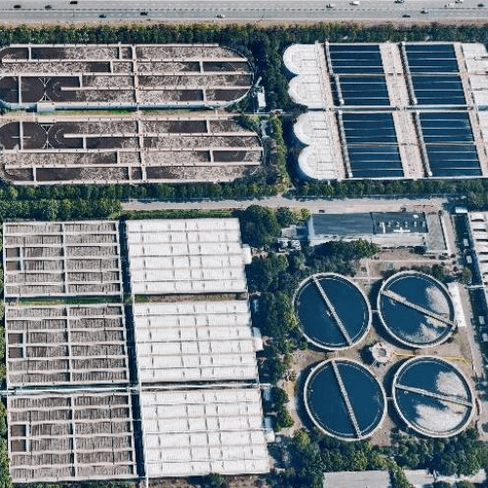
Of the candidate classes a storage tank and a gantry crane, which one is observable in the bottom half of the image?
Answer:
storage tank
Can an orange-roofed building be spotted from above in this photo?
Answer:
No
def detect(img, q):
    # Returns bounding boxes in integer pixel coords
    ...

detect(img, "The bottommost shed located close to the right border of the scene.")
[402,470,487,486]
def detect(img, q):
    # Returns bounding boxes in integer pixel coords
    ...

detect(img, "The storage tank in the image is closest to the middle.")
[291,272,373,352]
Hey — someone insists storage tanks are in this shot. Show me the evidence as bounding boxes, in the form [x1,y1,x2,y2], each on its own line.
[374,271,456,350]
[390,355,476,440]
[302,359,386,443]
[291,272,373,352]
